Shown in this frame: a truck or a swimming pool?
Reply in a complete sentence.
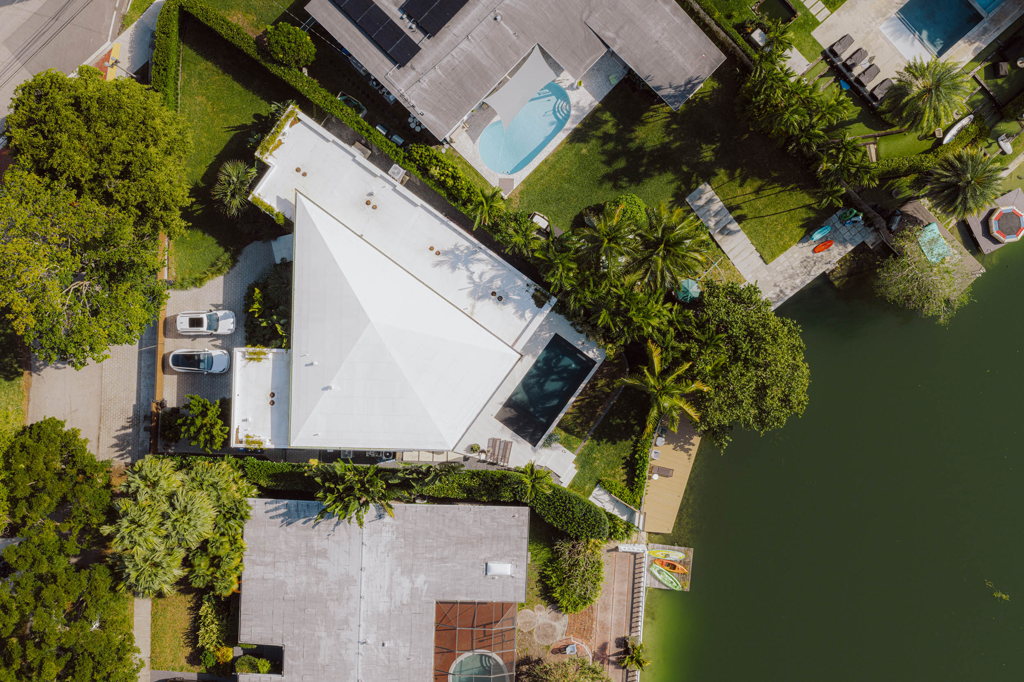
It is a swimming pool that can be seen here.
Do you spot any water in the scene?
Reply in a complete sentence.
Yes, there is water in the image.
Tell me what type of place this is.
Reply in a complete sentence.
The area seen from above is a residential area.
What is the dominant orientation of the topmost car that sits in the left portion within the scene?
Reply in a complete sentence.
From this overhead view, the topmost car that sits in the left portion appears to run horizontally.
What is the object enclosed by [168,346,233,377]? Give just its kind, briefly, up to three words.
car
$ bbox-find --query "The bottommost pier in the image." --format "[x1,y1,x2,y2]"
[645,543,693,591]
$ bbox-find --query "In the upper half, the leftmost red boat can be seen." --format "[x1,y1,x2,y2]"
[813,240,834,253]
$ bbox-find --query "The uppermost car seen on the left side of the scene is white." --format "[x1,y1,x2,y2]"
[175,306,239,338]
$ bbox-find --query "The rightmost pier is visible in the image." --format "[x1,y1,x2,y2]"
[965,188,1024,255]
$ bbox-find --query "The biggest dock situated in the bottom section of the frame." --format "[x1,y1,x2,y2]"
[645,409,715,533]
